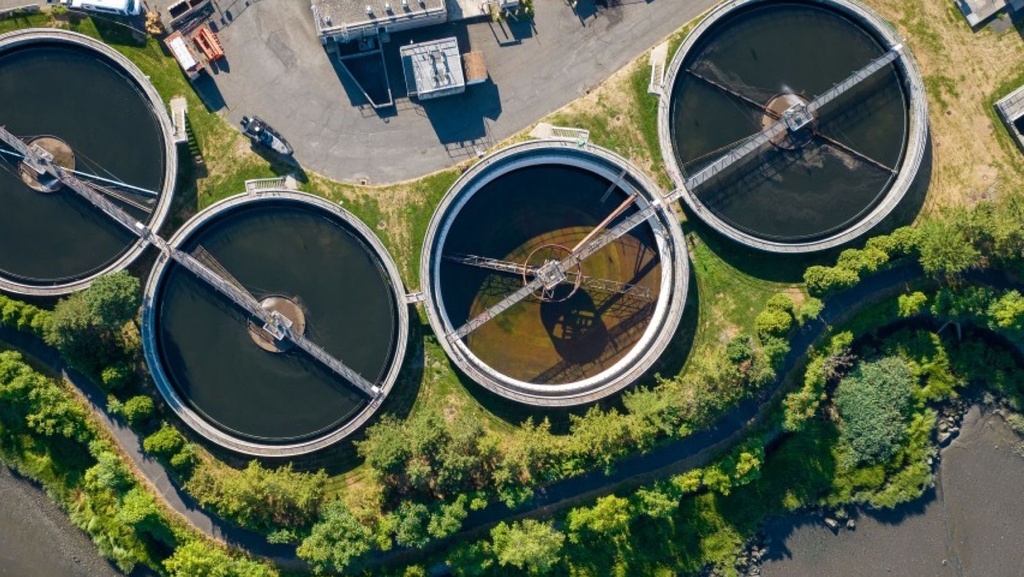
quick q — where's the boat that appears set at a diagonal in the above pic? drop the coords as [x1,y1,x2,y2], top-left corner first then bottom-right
[236,112,295,157]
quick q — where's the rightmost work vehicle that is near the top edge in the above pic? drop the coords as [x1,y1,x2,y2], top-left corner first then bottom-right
[140,5,166,36]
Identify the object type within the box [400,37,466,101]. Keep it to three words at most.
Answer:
building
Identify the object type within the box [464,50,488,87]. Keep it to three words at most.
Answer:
shed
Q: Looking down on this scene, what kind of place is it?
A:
industrial area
